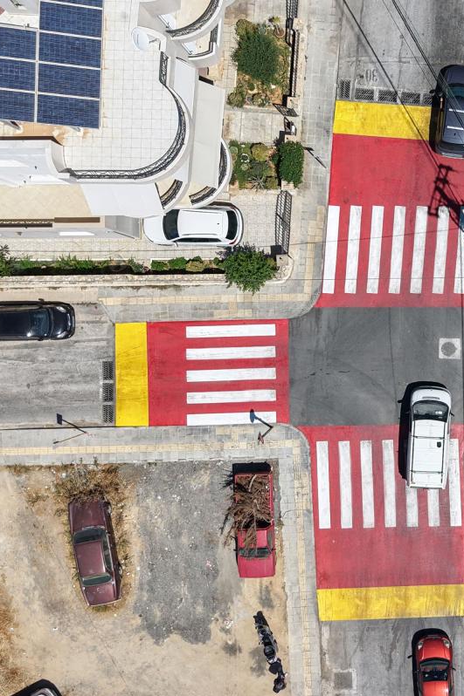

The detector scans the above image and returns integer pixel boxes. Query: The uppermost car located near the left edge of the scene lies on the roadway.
[0,296,80,345]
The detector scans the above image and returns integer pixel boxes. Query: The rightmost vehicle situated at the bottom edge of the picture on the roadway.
[409,625,458,696]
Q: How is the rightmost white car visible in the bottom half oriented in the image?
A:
vertically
